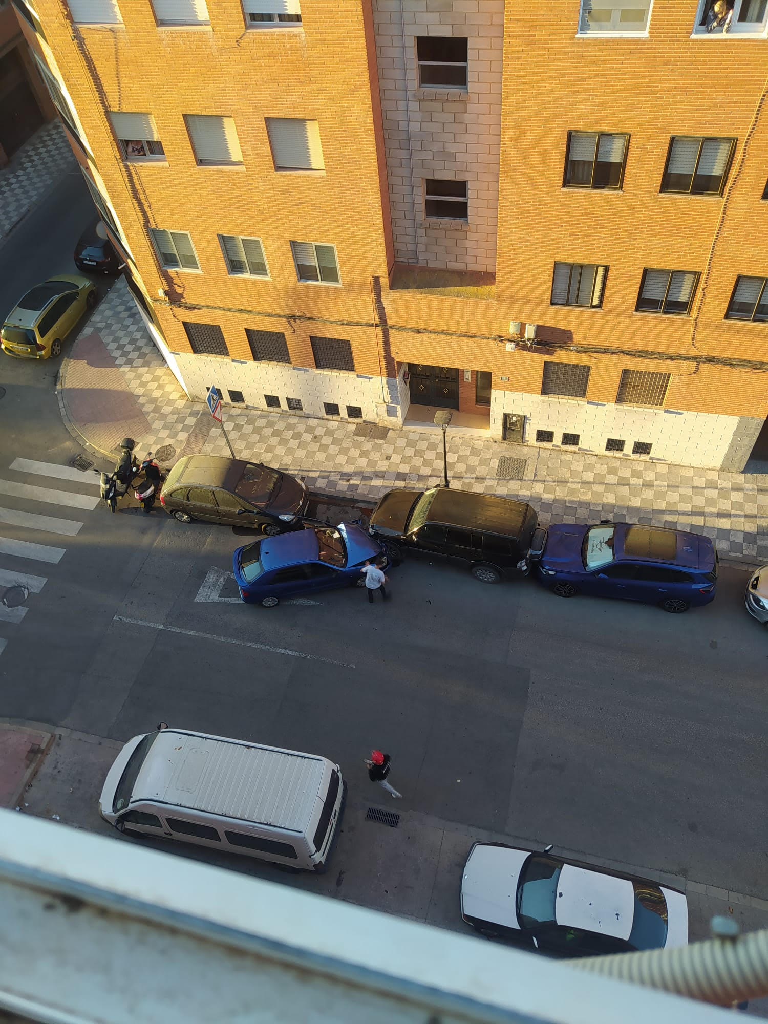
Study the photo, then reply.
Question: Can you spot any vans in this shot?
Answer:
Yes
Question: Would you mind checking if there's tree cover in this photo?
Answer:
No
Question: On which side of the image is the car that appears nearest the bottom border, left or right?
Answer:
right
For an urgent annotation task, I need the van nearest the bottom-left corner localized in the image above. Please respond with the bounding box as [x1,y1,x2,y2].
[96,719,353,871]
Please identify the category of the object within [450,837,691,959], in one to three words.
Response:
car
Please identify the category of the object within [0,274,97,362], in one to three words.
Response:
car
